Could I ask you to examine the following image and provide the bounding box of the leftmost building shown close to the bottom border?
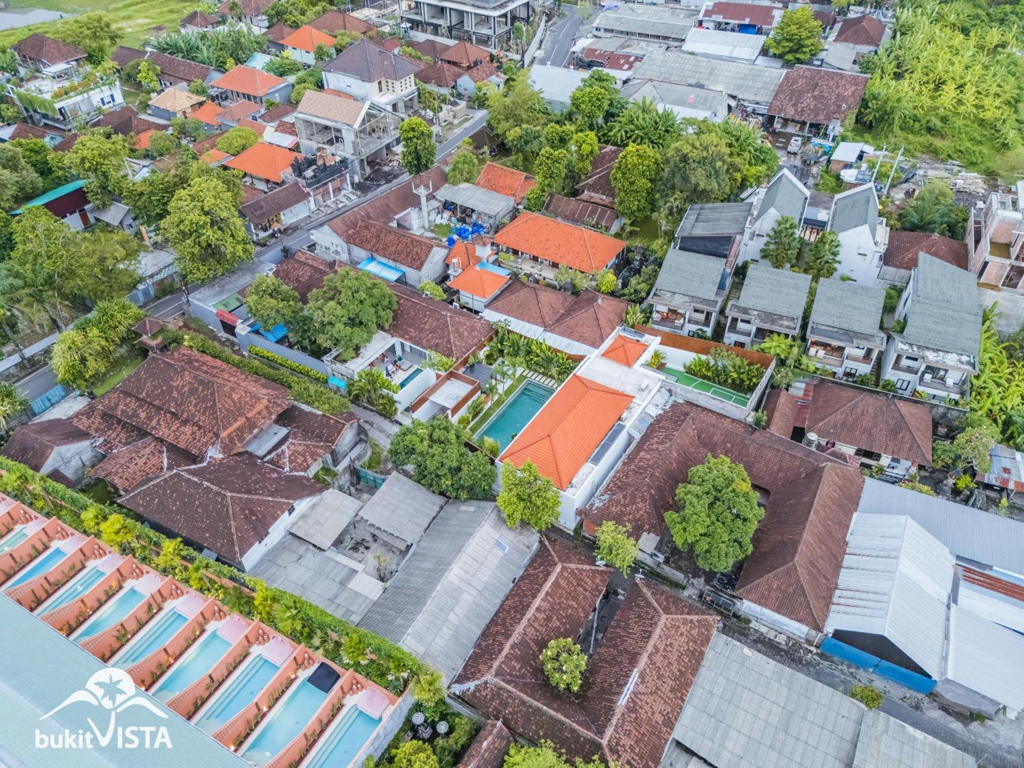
[0,589,262,768]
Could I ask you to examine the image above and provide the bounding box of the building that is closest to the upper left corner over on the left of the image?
[13,32,88,79]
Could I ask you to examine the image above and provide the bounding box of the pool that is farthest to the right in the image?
[474,378,556,450]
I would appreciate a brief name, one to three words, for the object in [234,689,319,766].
swimming pool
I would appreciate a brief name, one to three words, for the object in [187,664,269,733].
swimming pool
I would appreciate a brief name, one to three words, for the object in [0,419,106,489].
house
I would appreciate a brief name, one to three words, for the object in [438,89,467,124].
building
